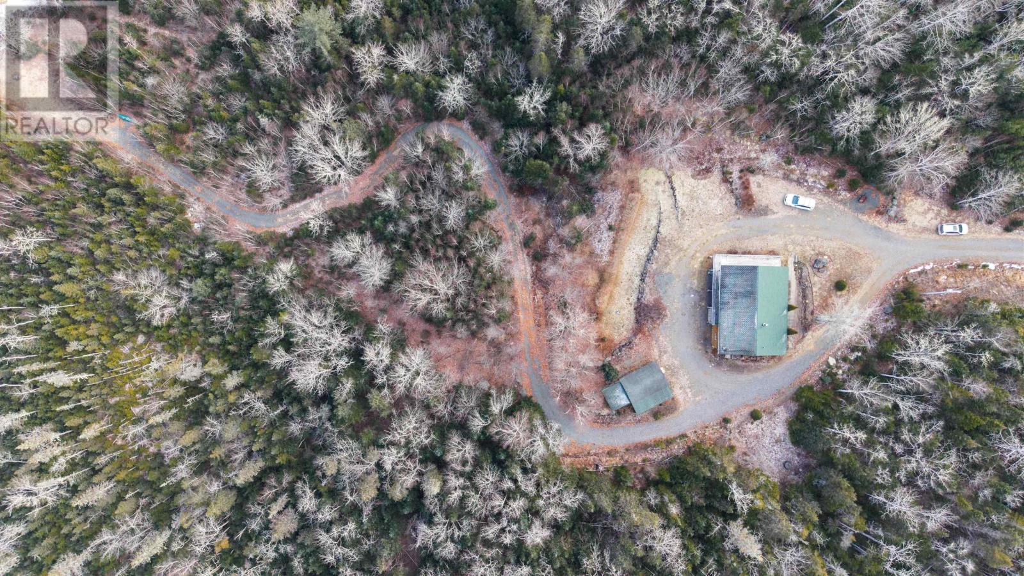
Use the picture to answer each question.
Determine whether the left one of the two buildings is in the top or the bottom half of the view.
bottom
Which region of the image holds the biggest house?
right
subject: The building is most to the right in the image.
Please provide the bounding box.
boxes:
[702,253,788,356]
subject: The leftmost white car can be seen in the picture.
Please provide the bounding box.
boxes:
[784,194,817,210]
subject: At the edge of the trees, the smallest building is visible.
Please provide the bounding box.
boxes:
[602,361,673,414]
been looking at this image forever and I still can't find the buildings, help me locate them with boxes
[602,361,673,414]
[702,253,788,356]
